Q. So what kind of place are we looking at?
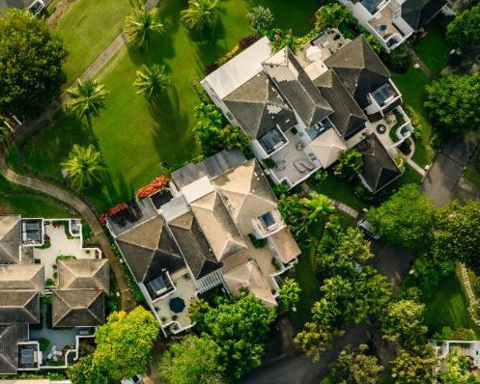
residential area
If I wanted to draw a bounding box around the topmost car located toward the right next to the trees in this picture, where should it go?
[355,216,379,237]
